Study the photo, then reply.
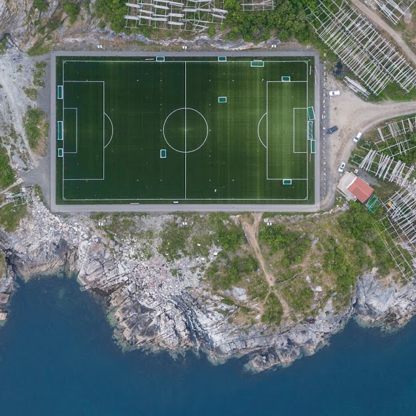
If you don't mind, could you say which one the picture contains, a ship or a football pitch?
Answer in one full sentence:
Looking from above, you can make out a football pitch.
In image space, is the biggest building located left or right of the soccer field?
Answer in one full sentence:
From the viewer's perspective, the biggest building falls to the right of the soccer field.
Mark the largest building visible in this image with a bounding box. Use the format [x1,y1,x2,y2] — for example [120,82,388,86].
[337,172,374,203]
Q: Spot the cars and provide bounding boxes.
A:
[353,131,362,142]
[338,160,345,172]
[329,90,339,95]
[326,126,338,133]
